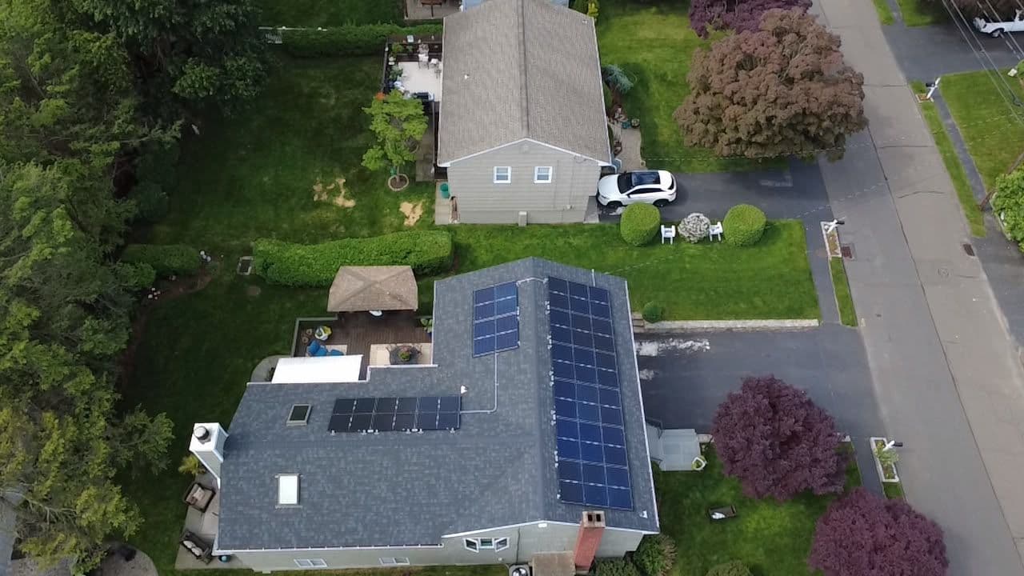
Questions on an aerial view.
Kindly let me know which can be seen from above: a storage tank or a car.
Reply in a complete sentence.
There is a car in the scene.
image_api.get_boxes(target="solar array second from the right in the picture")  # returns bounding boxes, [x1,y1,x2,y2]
[471,279,523,354]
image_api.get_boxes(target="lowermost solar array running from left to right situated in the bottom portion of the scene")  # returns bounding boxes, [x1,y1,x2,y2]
[329,395,462,435]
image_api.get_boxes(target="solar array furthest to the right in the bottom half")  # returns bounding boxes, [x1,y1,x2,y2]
[545,276,635,509]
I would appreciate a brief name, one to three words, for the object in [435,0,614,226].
house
